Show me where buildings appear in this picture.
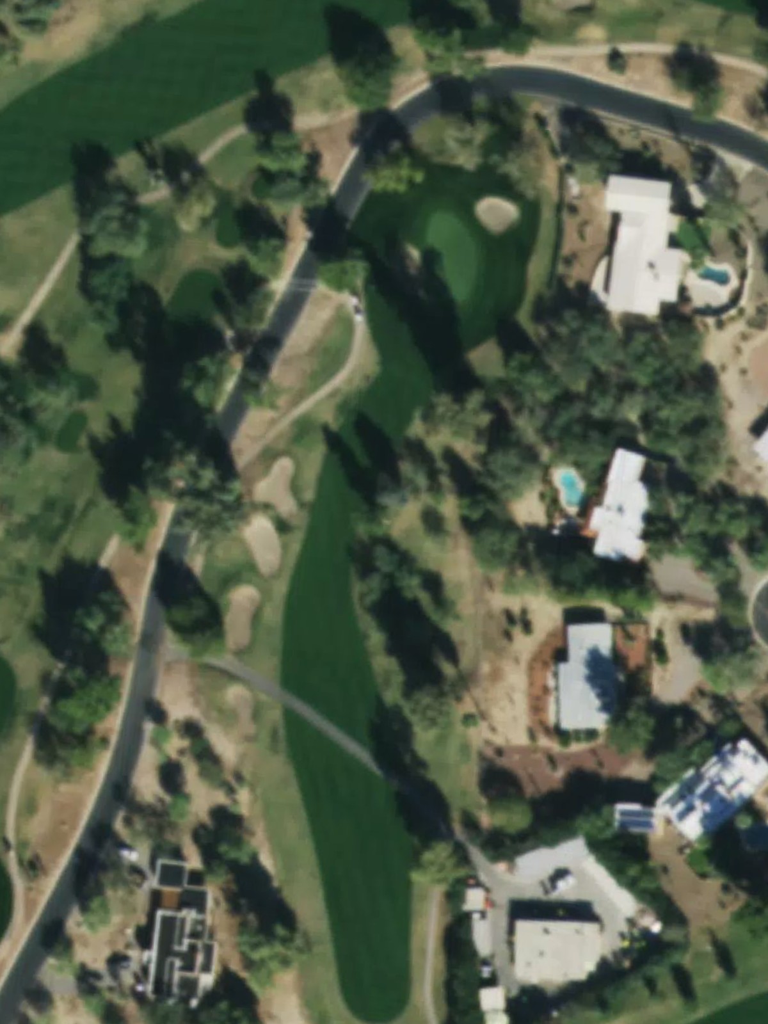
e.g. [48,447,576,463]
[464,889,486,910]
[480,988,506,1013]
[606,174,680,315]
[142,860,218,1007]
[515,923,602,984]
[656,738,768,843]
[580,449,649,561]
[485,1013,509,1024]
[755,431,768,460]
[548,624,647,731]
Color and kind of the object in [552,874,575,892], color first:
white vehicle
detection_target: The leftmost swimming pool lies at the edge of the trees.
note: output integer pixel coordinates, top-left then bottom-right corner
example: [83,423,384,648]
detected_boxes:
[552,466,586,514]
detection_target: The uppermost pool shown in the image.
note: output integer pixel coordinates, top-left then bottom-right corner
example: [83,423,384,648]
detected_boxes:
[685,257,739,308]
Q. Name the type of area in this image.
golf course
